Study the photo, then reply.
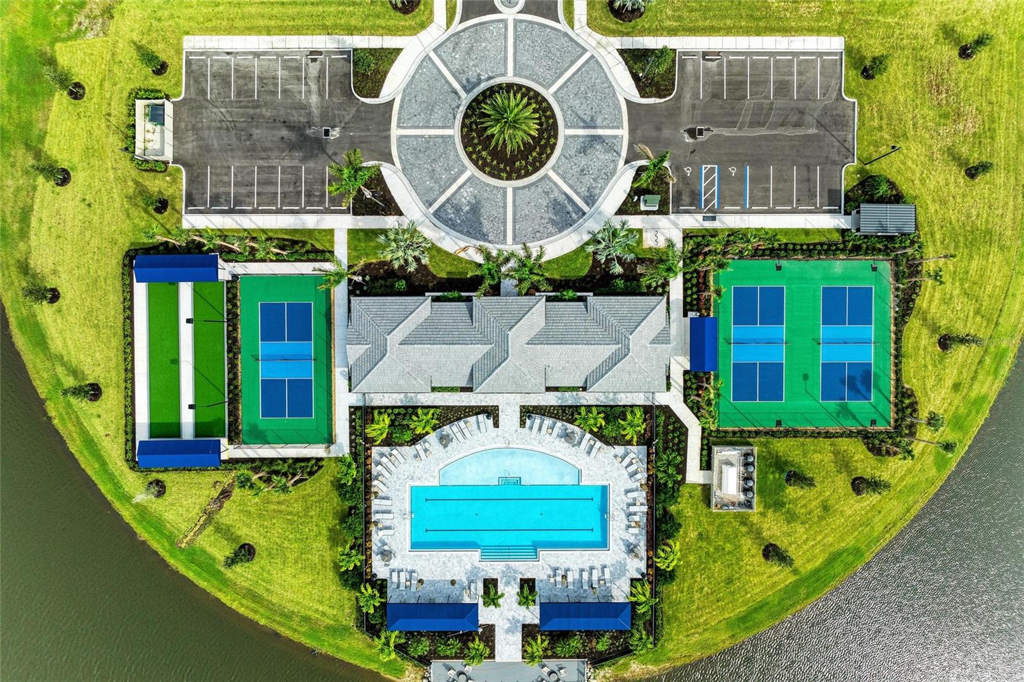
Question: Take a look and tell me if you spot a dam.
No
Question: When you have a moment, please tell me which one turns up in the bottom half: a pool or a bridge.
pool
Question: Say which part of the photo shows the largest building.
center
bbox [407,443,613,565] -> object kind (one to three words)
swimming pool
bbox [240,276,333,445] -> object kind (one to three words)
sports court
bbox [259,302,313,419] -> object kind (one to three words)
sports court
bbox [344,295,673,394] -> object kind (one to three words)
building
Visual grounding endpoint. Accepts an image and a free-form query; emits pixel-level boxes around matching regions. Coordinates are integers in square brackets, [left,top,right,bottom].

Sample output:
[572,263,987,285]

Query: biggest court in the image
[713,260,892,427]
